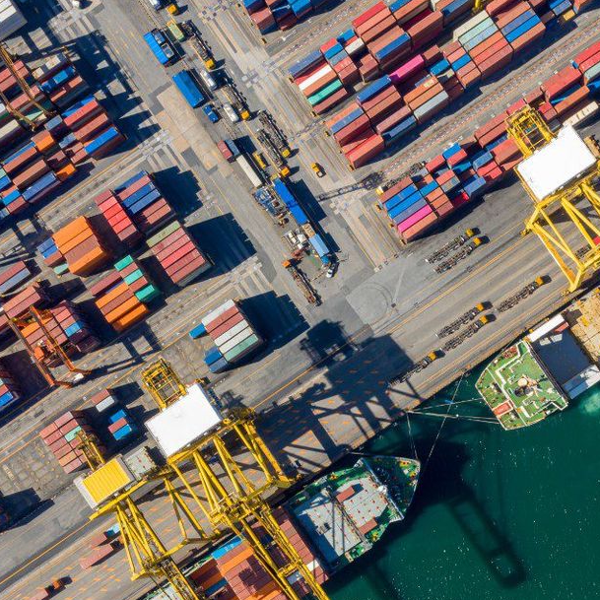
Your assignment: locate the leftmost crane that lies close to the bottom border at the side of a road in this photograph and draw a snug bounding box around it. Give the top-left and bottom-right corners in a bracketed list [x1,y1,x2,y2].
[59,415,225,600]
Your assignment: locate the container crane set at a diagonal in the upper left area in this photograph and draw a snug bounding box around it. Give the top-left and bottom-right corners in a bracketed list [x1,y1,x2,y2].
[0,38,72,149]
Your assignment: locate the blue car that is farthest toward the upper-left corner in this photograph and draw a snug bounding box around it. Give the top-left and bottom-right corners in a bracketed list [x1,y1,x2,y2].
[202,102,218,125]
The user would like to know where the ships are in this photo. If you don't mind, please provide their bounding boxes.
[475,286,600,429]
[148,455,421,600]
